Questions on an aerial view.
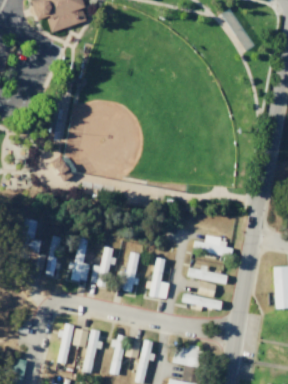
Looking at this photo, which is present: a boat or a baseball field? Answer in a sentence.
The image shows a baseball field.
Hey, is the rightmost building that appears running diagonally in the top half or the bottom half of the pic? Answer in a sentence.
It is in the top half that the rightmost building that appears running diagonally appears.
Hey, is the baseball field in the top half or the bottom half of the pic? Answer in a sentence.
The baseball field sits in the top half of the picture.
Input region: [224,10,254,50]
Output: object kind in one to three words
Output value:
building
